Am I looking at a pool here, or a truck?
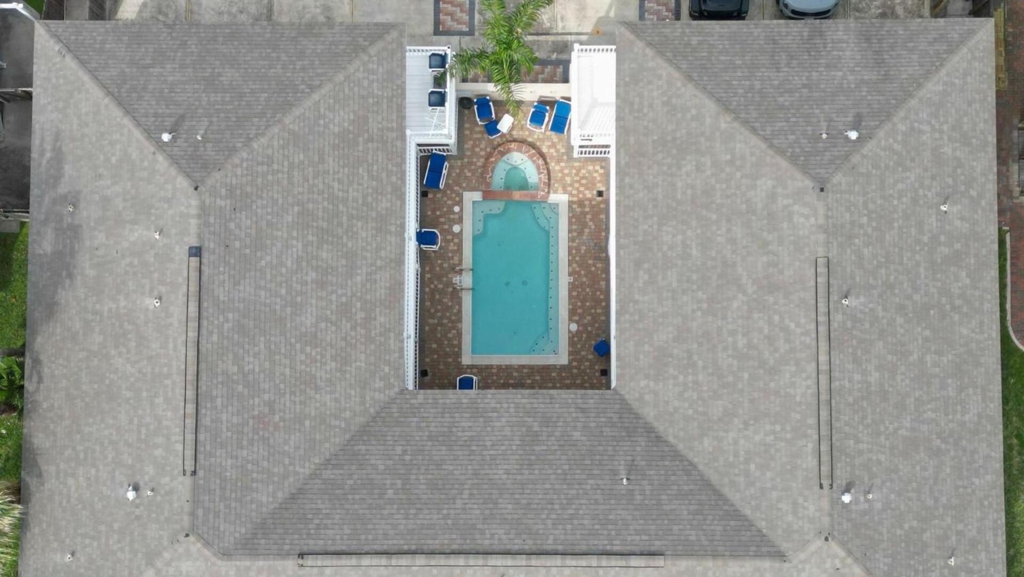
pool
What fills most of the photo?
buildings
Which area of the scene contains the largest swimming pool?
center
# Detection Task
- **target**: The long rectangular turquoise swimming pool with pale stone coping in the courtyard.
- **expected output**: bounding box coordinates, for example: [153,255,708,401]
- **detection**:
[462,192,568,364]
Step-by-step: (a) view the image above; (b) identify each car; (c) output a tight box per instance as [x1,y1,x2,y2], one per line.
[773,0,835,20]
[685,0,748,21]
